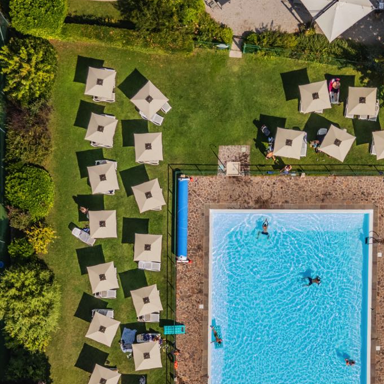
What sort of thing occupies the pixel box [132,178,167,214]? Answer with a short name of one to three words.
umbrella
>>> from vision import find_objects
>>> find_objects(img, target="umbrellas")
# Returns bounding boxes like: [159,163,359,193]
[132,233,162,263]
[87,363,122,384]
[85,260,119,294]
[85,67,118,101]
[129,81,171,121]
[272,126,306,160]
[372,130,384,160]
[347,86,377,117]
[130,282,164,316]
[298,81,331,115]
[134,132,163,162]
[84,112,119,149]
[86,161,119,194]
[318,124,356,162]
[132,338,163,370]
[132,178,167,214]
[300,0,374,42]
[88,210,117,240]
[85,310,121,346]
